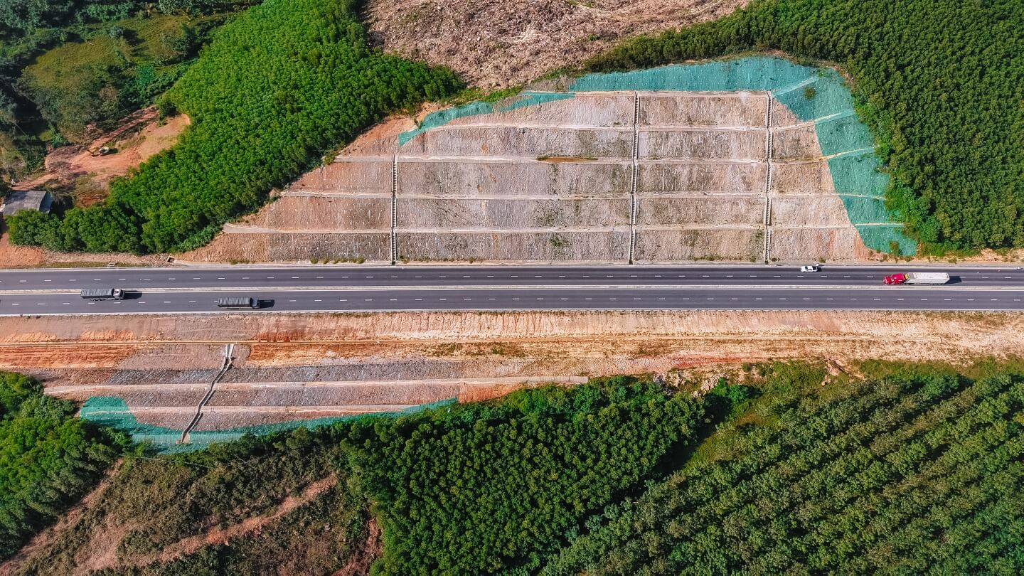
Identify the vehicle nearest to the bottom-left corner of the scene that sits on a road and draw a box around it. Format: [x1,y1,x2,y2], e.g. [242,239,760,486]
[73,287,125,300]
